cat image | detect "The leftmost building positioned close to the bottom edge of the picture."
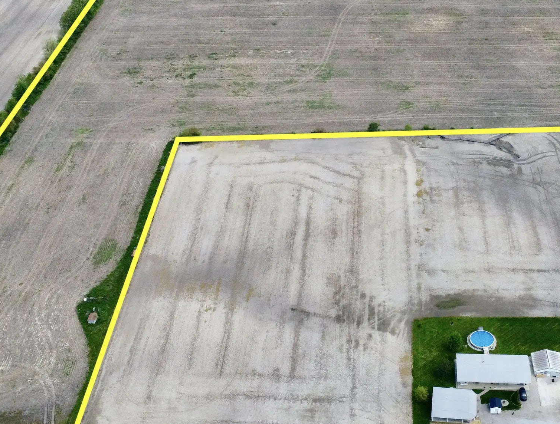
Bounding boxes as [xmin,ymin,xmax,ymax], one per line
[432,387,477,424]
